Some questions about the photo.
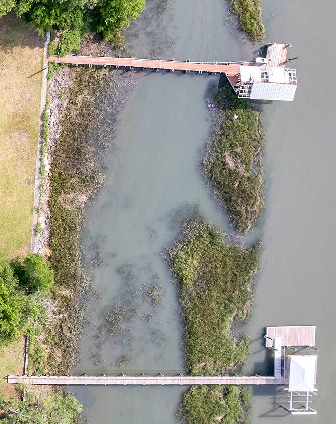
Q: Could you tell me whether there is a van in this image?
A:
No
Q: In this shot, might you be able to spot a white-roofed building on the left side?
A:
No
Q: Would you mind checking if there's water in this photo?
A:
Yes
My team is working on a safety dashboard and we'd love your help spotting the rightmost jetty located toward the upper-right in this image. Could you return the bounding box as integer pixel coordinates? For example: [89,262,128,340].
[265,43,288,70]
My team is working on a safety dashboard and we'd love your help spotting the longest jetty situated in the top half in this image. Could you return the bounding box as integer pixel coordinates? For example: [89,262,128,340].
[48,55,288,95]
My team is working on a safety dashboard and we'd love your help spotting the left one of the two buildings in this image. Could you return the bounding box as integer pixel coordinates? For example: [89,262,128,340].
[225,66,298,103]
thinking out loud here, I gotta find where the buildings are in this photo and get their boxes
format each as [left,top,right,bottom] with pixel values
[225,66,298,103]
[288,355,326,395]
